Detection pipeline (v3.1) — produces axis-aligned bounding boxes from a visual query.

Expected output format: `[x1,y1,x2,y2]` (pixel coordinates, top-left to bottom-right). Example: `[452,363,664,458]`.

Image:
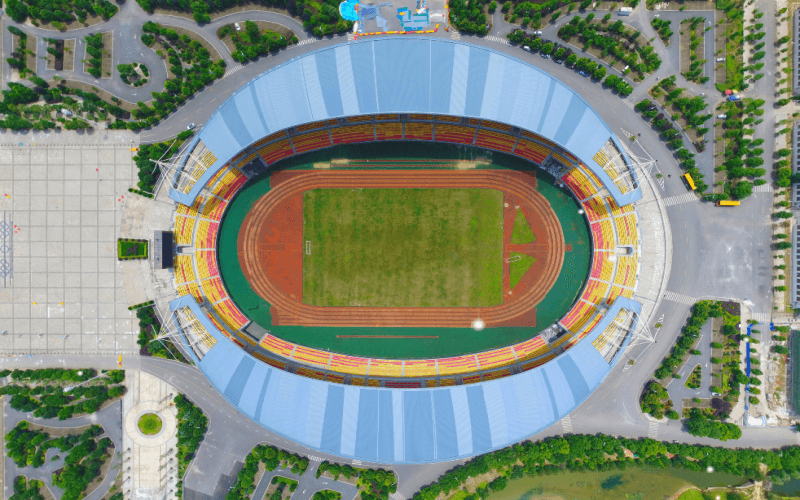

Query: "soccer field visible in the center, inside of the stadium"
[302,188,503,307]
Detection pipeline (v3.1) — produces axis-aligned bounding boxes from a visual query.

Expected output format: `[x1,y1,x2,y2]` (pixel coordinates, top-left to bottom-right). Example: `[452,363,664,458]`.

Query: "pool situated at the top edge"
[338,0,358,21]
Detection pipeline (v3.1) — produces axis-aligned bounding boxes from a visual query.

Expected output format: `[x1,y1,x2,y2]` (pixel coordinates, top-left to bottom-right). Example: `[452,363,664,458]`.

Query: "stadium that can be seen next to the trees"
[148,37,660,465]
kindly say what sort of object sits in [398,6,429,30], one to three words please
building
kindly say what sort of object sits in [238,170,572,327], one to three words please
running track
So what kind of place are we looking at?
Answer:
sports ground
